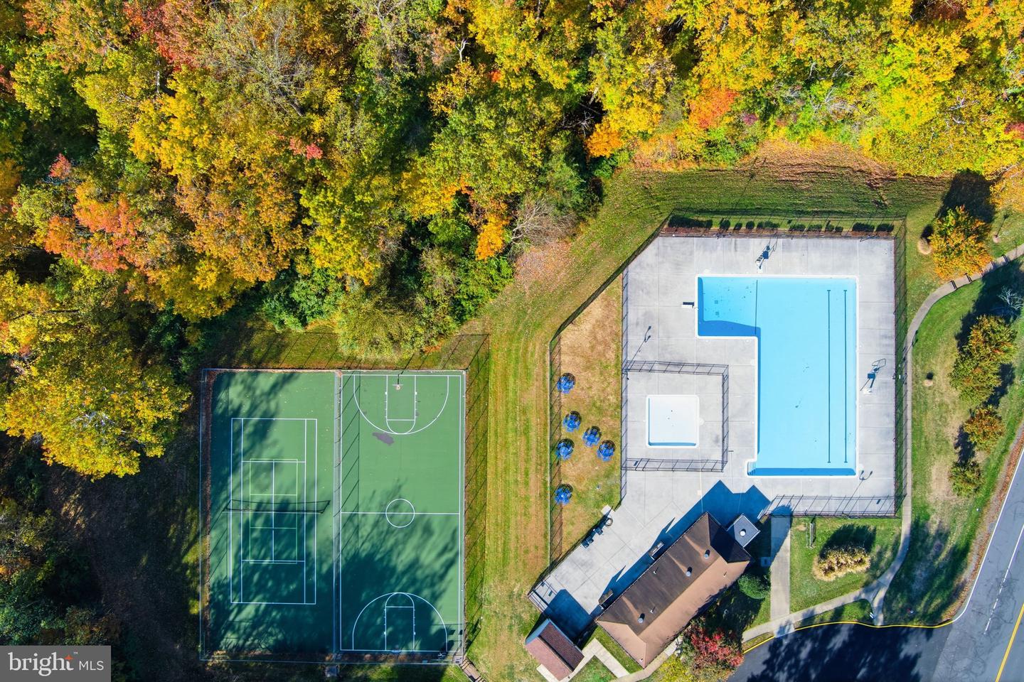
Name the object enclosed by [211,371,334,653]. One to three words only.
tennis court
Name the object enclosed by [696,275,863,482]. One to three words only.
swimming pool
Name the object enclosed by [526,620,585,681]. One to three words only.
shed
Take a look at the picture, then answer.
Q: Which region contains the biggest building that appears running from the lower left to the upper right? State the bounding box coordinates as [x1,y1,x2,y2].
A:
[595,511,753,668]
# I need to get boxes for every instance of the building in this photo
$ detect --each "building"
[595,511,753,668]
[526,620,585,681]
